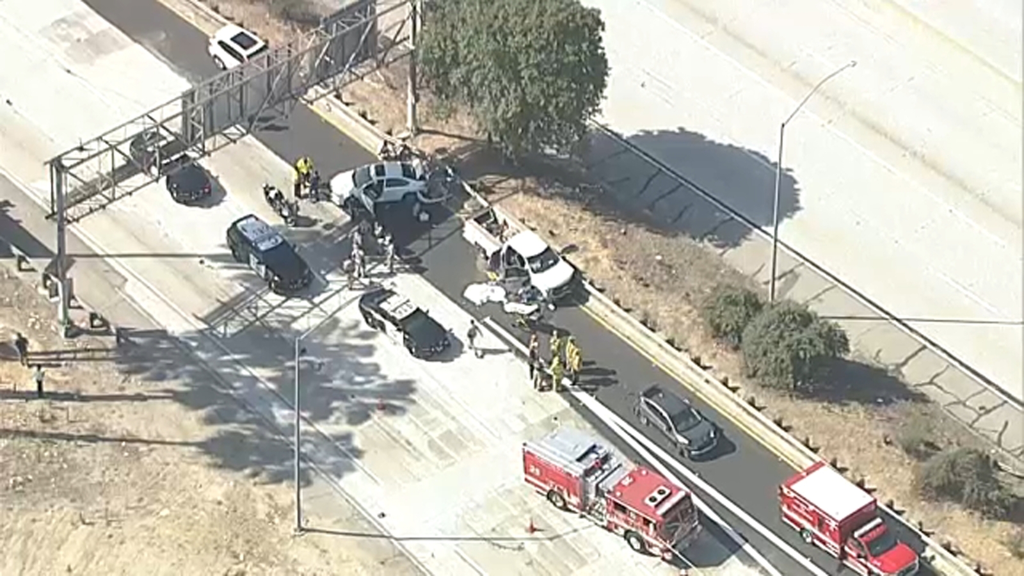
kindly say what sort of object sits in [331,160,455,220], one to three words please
car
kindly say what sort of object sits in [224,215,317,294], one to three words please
car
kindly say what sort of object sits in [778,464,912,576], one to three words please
van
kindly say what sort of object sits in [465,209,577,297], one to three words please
truck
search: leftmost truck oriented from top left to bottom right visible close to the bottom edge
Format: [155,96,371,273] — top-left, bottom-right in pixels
[518,416,709,571]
